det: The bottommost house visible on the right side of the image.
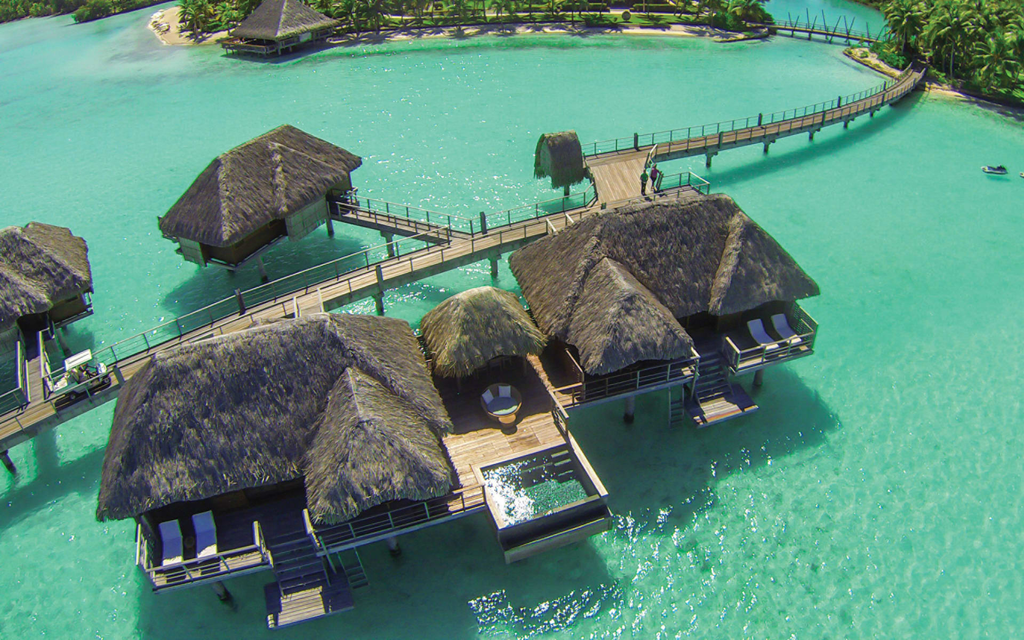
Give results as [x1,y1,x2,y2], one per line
[508,193,822,442]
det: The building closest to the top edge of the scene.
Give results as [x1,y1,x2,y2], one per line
[218,0,343,67]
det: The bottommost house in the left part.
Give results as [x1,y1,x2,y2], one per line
[92,310,484,640]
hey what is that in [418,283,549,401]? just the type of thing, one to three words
gazebo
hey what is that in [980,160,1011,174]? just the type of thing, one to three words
boat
